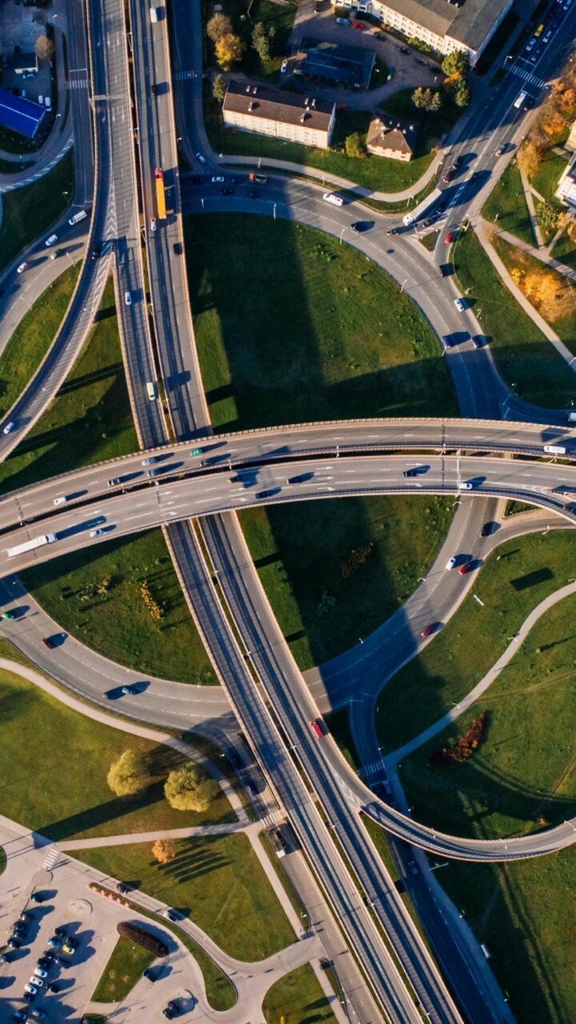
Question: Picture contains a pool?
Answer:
No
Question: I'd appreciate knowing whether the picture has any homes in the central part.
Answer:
No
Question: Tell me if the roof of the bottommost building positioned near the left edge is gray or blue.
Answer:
blue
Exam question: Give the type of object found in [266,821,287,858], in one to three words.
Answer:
truck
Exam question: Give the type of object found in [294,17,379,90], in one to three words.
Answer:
building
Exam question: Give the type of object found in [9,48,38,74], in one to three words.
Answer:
shed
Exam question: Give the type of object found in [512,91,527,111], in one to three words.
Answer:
vehicle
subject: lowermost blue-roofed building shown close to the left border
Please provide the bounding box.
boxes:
[0,80,43,137]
